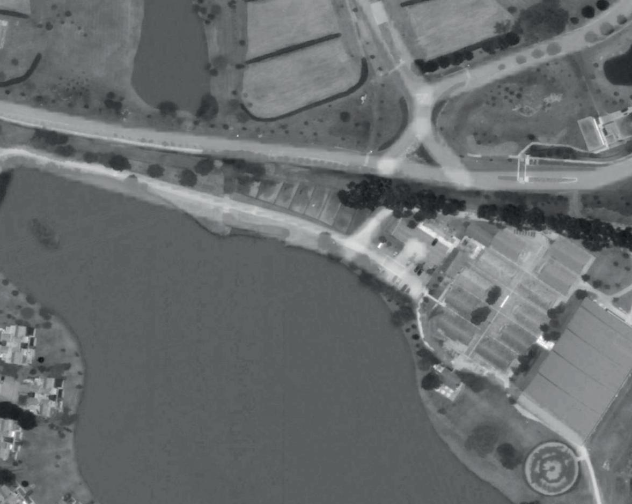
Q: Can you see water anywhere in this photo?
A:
Yes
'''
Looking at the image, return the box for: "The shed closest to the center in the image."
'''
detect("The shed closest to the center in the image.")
[416,221,462,255]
